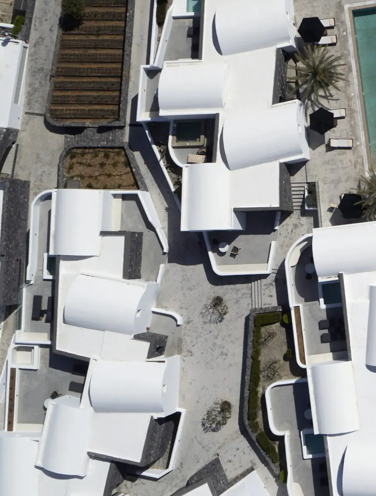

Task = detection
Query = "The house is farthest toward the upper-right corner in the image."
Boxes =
[156,0,316,231]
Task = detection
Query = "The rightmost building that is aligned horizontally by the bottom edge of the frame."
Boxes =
[221,467,286,496]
